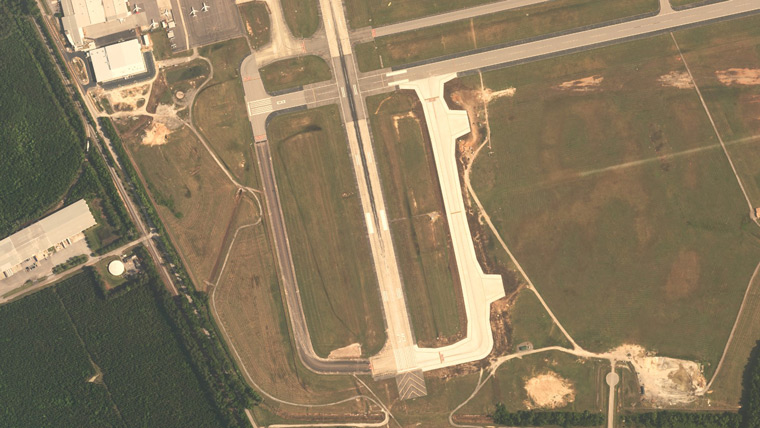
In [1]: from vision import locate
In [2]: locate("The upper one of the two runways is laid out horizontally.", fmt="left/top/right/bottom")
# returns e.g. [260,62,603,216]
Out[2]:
[248,0,760,127]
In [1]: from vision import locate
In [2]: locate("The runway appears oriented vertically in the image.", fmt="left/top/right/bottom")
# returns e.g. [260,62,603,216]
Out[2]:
[317,0,421,386]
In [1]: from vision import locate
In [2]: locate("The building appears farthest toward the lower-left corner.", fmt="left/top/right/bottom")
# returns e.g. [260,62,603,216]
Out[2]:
[0,199,96,278]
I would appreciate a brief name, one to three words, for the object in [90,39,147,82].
hangar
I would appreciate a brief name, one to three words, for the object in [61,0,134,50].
building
